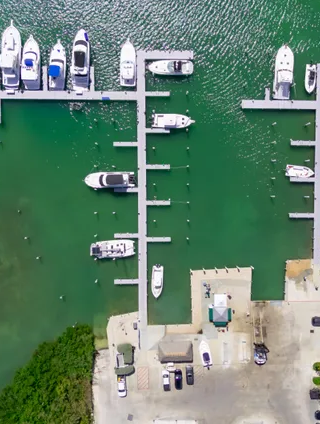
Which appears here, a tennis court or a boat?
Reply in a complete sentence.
Of the two, only a boat appears.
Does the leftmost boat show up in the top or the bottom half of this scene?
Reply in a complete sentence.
Seen from above, the leftmost boat lies in the top half of the view.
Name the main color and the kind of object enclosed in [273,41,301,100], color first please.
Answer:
white boat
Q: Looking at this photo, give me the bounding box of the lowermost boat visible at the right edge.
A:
[284,165,315,177]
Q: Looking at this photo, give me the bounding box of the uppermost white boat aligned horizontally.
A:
[148,59,193,80]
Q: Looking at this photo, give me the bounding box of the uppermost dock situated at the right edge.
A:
[241,64,320,259]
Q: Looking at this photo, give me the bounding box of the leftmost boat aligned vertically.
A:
[0,15,22,91]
